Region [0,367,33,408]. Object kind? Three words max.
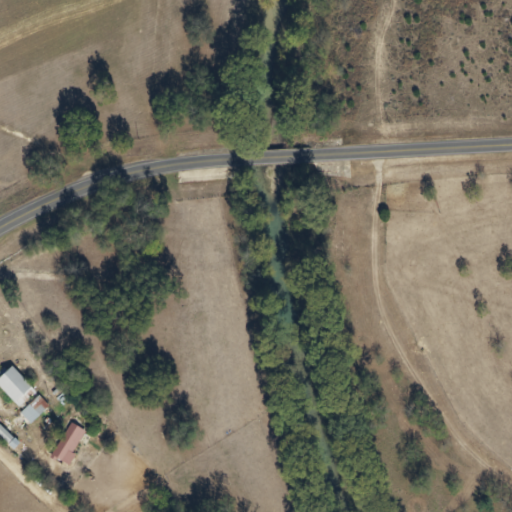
barn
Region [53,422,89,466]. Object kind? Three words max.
house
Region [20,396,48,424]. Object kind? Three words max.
shed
